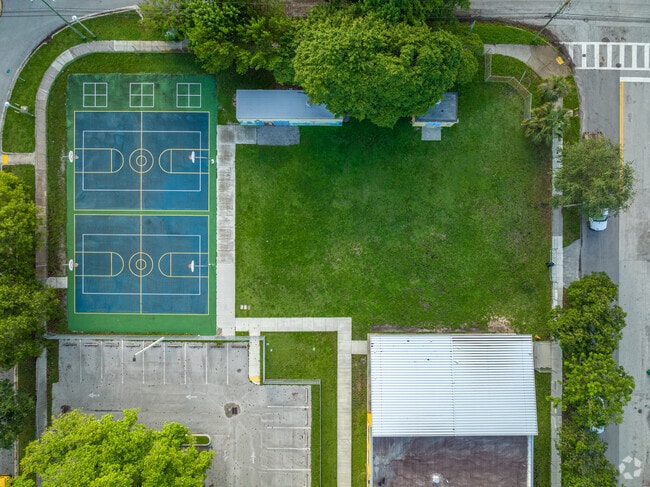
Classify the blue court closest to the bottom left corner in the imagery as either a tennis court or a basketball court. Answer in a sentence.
I'd say the blue court closest to the bottom left corner is a basketball court.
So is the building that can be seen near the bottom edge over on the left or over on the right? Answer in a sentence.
The building that can be seen near the bottom edge sits on the right side.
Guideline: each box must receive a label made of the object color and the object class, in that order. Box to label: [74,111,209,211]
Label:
blue basketball court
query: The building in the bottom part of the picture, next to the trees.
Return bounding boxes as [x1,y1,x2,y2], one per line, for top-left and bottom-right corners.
[367,331,539,487]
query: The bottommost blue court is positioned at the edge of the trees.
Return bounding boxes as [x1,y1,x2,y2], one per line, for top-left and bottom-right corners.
[74,215,209,314]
